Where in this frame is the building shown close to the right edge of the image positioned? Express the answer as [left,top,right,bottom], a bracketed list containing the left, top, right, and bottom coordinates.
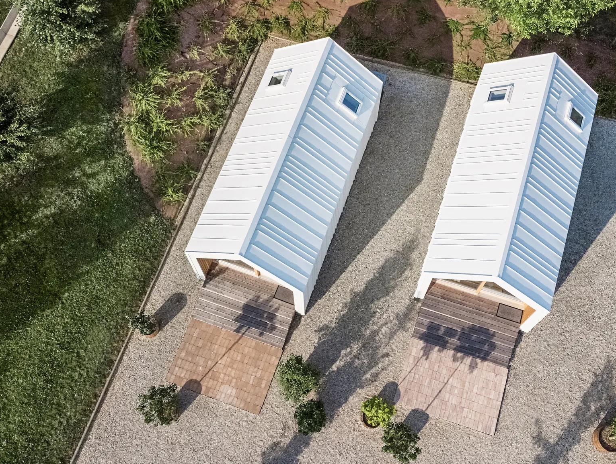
[414,49,598,333]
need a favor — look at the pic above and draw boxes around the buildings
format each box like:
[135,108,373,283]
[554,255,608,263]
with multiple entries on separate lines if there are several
[184,36,382,317]
[414,49,598,333]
